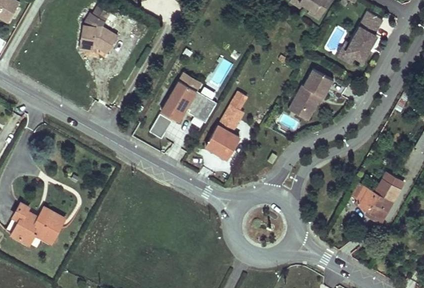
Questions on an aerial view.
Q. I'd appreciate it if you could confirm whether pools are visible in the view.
Yes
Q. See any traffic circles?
Yes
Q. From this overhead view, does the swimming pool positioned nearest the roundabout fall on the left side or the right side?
right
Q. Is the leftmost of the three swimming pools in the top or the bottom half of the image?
top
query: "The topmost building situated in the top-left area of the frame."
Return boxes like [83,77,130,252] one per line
[0,0,22,24]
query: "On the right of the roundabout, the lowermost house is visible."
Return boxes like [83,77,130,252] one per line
[353,172,406,224]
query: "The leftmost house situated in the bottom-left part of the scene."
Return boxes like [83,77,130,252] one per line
[7,202,66,248]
